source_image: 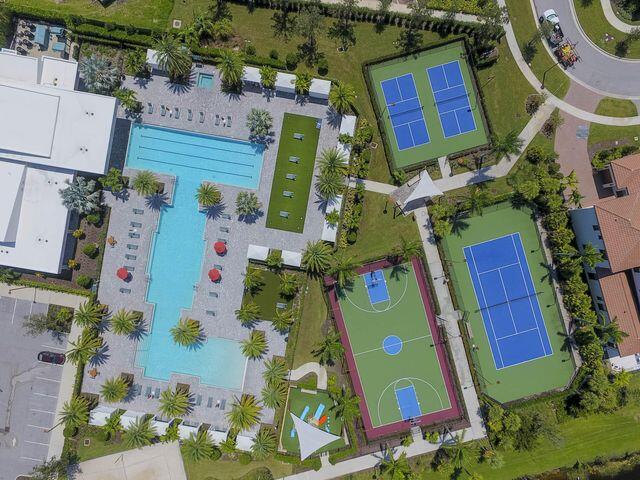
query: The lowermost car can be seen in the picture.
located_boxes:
[36,351,63,366]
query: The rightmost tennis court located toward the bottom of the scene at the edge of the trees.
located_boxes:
[444,204,576,405]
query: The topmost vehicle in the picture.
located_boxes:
[546,7,569,42]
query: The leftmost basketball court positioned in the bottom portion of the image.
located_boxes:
[322,255,461,441]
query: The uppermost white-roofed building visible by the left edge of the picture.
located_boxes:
[0,48,118,274]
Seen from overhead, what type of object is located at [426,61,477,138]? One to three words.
sports court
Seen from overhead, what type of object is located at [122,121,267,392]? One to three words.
swimming pool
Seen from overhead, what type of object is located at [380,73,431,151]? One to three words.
sports court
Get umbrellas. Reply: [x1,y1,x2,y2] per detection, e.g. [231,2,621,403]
[214,241,226,254]
[209,268,221,280]
[117,267,130,279]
